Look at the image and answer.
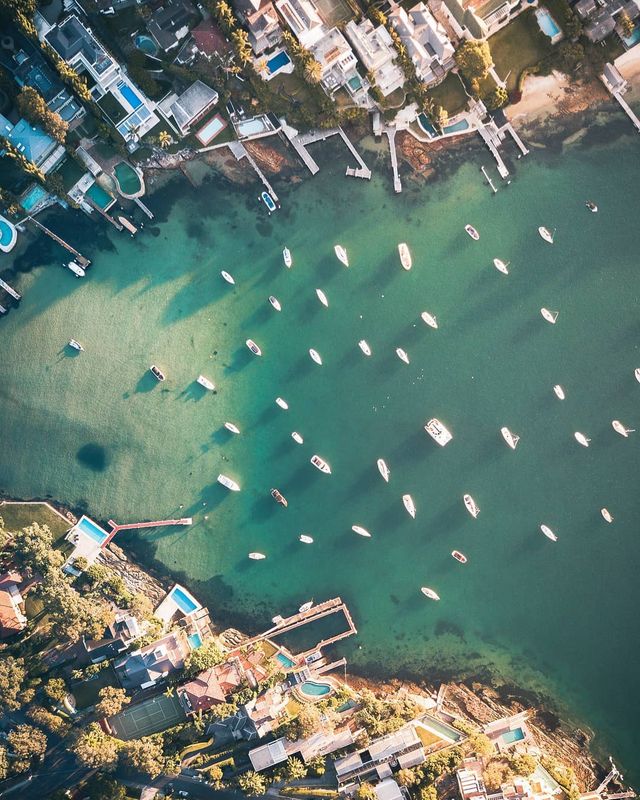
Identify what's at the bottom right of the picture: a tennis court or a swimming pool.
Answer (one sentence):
It is a swimming pool that can be seen at the bottom right of the picture.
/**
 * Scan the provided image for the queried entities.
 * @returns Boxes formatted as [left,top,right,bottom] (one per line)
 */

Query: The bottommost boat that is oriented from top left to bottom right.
[420,587,440,604]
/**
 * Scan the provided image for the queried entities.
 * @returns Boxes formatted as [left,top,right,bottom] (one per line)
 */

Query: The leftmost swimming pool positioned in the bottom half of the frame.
[63,513,111,577]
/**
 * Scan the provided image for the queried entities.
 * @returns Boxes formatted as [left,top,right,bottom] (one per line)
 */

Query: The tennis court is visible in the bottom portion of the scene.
[109,691,184,743]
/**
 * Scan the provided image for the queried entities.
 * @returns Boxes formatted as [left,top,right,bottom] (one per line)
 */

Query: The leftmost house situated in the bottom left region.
[0,568,30,641]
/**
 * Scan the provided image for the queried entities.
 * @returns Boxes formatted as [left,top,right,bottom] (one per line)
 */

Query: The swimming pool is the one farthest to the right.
[618,26,640,52]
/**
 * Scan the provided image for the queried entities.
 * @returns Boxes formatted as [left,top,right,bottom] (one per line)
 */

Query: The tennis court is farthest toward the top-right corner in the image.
[318,0,362,24]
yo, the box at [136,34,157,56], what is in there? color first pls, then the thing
blue swimming pool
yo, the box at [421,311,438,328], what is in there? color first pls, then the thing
white boat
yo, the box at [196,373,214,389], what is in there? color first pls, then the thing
white boat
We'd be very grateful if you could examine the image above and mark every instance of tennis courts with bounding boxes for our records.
[318,0,362,24]
[109,691,184,743]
